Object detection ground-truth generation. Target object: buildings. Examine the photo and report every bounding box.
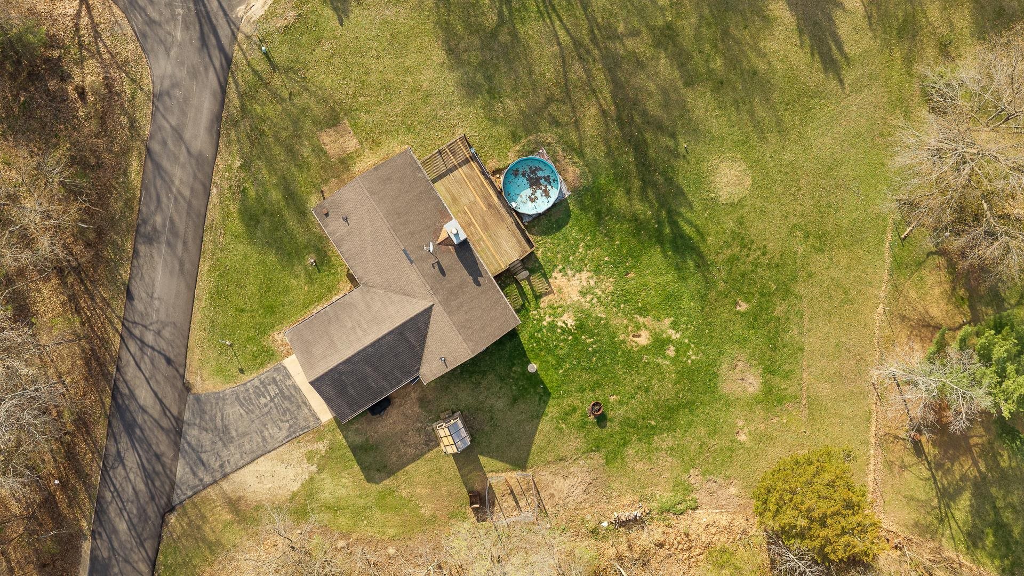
[435,408,476,454]
[285,149,520,424]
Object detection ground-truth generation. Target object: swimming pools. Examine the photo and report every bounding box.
[502,155,563,217]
